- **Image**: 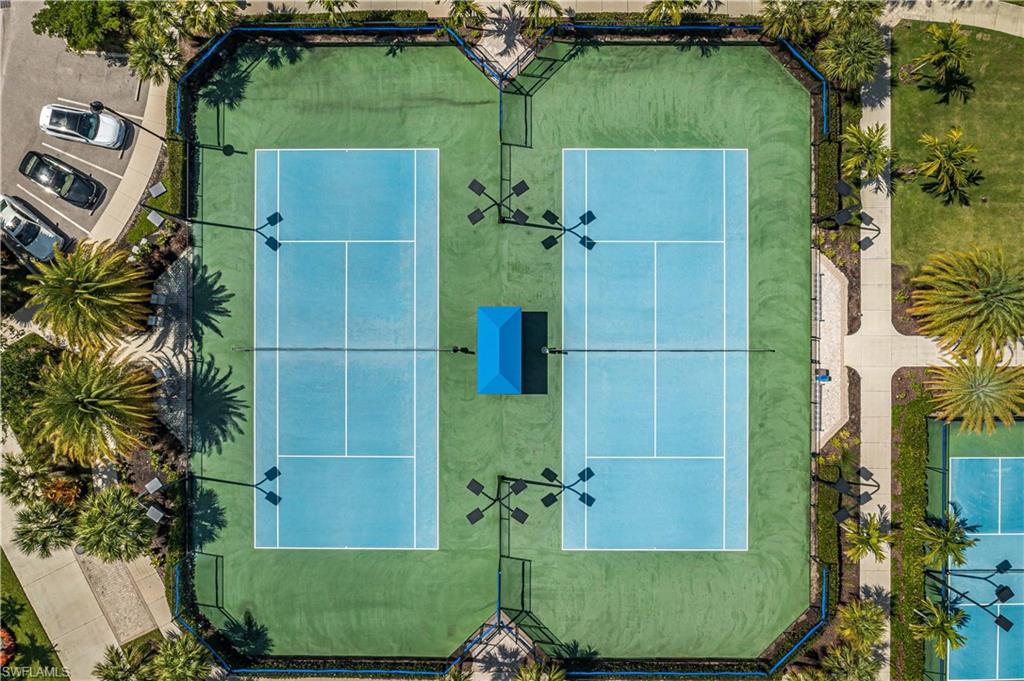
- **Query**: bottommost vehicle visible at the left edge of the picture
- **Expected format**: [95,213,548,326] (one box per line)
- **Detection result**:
[0,195,59,260]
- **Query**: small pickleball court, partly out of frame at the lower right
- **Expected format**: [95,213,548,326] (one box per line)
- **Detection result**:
[928,418,1024,681]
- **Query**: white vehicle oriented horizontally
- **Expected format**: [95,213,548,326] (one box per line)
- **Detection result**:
[37,100,122,148]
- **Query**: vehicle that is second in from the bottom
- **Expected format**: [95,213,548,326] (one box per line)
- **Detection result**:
[14,150,98,208]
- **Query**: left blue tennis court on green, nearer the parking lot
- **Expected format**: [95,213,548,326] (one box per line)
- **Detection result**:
[192,40,501,657]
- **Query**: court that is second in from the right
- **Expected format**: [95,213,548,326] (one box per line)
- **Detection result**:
[501,40,812,657]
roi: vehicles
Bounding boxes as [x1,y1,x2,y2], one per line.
[0,195,59,260]
[14,150,98,208]
[37,100,122,148]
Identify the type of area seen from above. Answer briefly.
sports ground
